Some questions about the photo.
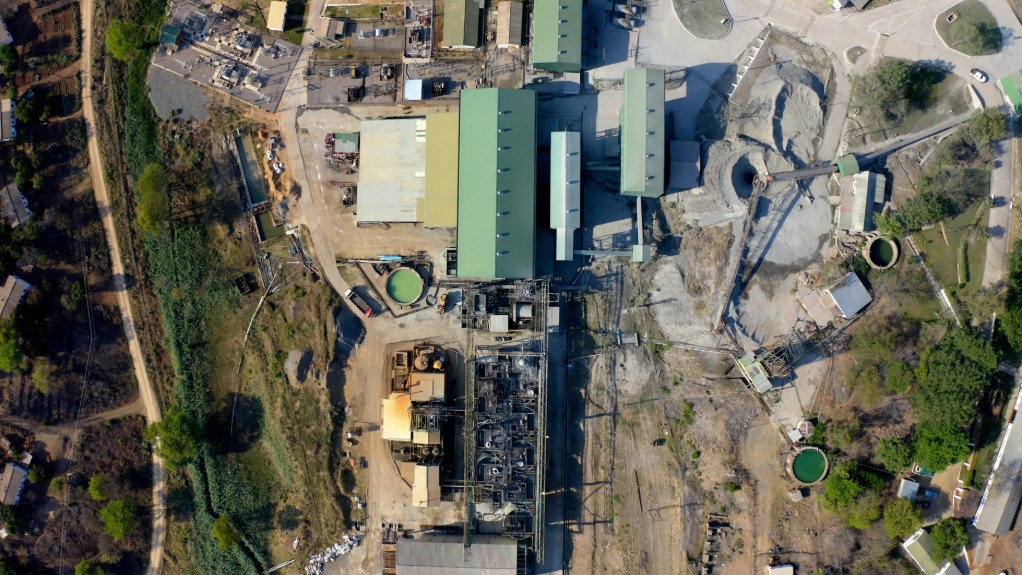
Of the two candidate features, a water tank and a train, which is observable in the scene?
water tank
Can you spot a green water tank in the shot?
Yes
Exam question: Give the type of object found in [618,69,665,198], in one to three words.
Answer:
building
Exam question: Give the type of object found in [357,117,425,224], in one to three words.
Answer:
shed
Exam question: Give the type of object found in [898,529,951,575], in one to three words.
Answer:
house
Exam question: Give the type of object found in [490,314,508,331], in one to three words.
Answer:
building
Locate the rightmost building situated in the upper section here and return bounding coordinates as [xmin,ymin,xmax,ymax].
[993,73,1022,114]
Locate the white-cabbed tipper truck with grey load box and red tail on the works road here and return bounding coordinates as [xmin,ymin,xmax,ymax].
[342,289,373,318]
